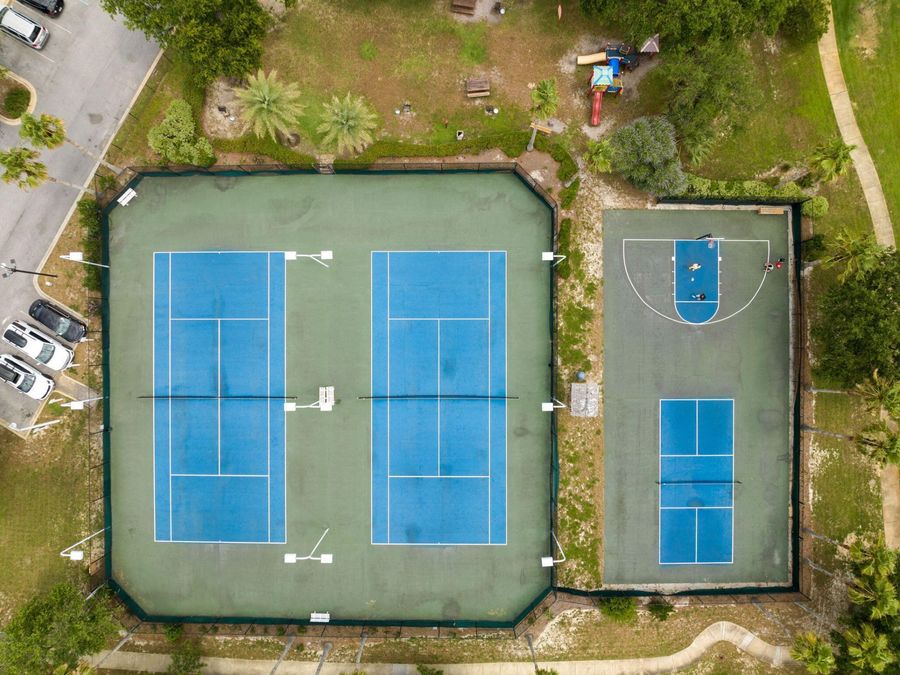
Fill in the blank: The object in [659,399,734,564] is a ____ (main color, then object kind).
blue sports court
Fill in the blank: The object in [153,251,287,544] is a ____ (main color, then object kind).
blue tennis court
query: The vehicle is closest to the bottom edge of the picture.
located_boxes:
[0,351,55,396]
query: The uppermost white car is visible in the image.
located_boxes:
[0,8,51,52]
